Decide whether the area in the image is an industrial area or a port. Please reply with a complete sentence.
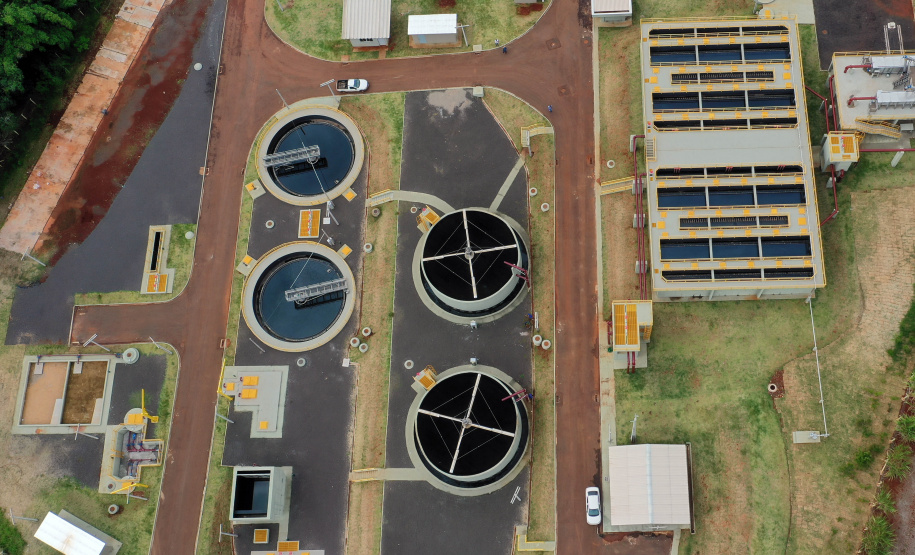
The picture captures an industrial area.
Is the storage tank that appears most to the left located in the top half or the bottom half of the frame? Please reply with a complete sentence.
Seen from above, the storage tank that appears most to the left lies in the bottom half of the view.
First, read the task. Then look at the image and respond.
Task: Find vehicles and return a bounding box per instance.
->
[335,77,370,94]
[584,487,603,526]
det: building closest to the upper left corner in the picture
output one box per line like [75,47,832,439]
[342,0,391,54]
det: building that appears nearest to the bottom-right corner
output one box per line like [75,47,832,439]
[603,444,701,555]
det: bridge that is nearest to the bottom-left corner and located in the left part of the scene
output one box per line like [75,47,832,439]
[288,280,349,307]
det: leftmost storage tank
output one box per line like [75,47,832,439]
[230,467,283,523]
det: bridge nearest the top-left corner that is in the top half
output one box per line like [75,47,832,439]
[259,144,319,168]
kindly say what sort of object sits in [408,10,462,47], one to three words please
shed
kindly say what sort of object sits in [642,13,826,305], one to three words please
storage tank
